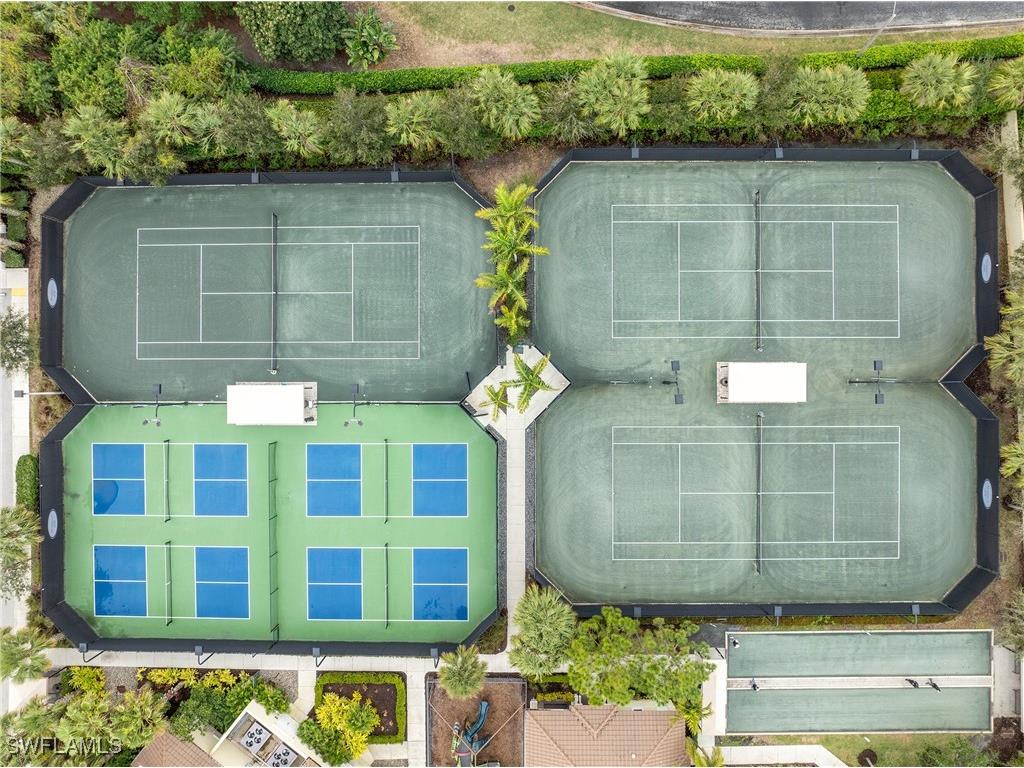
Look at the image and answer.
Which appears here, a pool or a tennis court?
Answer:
tennis court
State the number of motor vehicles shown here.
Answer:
0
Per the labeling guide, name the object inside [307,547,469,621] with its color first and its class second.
blue sports court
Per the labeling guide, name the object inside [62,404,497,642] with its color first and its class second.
green sports court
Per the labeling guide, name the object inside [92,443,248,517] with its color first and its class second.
blue sports court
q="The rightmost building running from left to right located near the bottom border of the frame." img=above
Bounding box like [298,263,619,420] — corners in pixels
[526,689,690,768]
